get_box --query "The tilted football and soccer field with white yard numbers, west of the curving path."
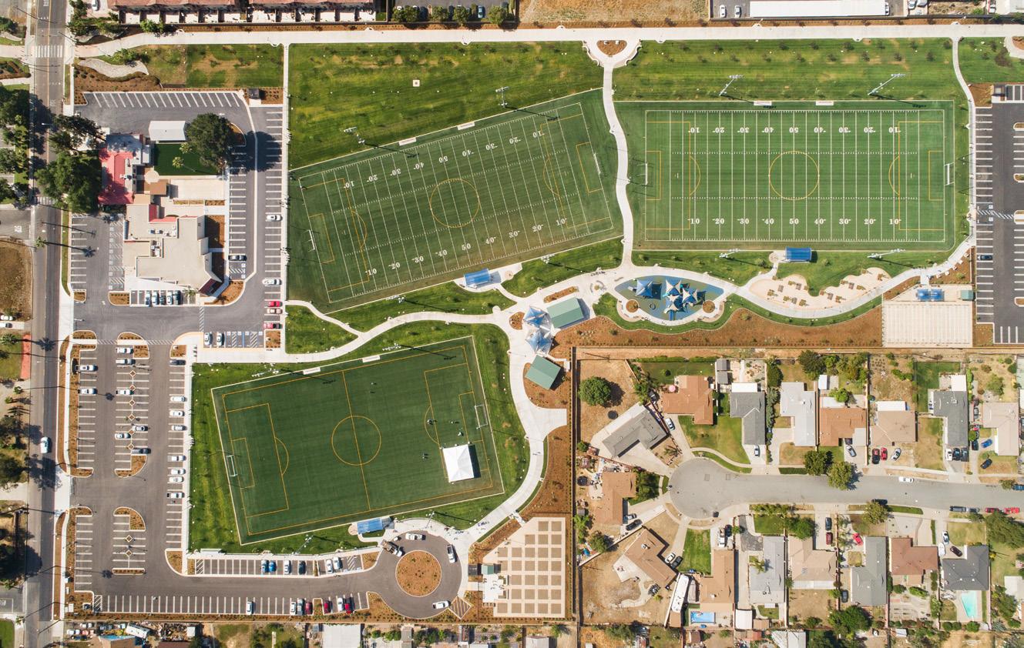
[288,86,624,313]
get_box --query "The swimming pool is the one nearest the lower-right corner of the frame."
[962,591,979,619]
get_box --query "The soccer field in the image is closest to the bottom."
[210,335,504,546]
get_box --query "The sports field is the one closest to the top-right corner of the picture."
[613,99,956,251]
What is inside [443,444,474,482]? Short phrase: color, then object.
white tent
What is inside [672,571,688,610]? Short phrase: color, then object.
white camper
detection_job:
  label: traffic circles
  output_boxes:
[377,531,460,618]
